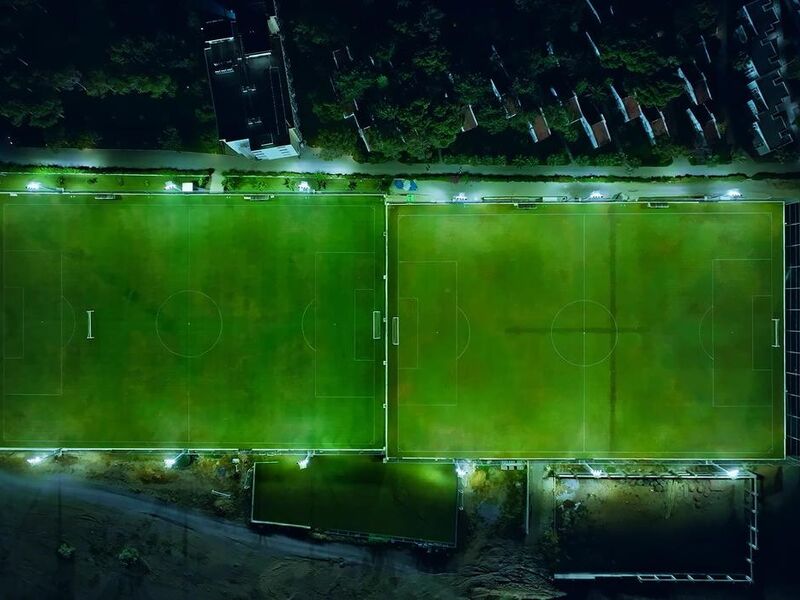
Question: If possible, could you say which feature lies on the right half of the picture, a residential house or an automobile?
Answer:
residential house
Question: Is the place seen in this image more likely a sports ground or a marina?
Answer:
sports ground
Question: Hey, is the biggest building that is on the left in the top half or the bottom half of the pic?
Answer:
top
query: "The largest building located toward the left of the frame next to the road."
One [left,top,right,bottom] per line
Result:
[203,5,300,162]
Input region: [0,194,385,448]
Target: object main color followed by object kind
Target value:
green soccer field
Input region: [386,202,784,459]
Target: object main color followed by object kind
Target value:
green soccer field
